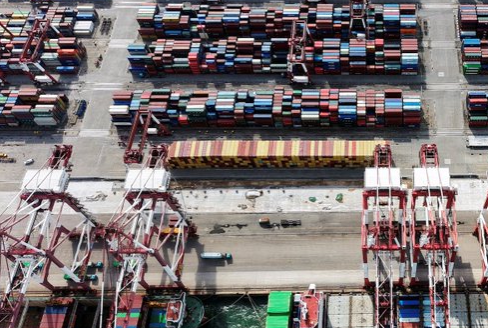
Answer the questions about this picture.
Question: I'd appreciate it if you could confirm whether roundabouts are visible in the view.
No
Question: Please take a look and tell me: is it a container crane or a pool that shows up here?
container crane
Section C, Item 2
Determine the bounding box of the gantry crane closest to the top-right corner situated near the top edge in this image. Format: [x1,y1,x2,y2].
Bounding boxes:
[346,0,372,45]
